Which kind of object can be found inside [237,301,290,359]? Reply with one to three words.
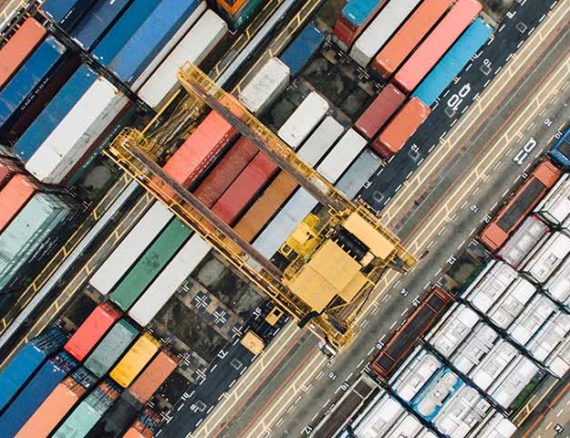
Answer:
truck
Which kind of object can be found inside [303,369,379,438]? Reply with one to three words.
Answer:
shipping container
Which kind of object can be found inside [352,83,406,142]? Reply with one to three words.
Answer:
shipping container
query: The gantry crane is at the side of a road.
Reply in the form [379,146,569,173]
[102,49,425,354]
